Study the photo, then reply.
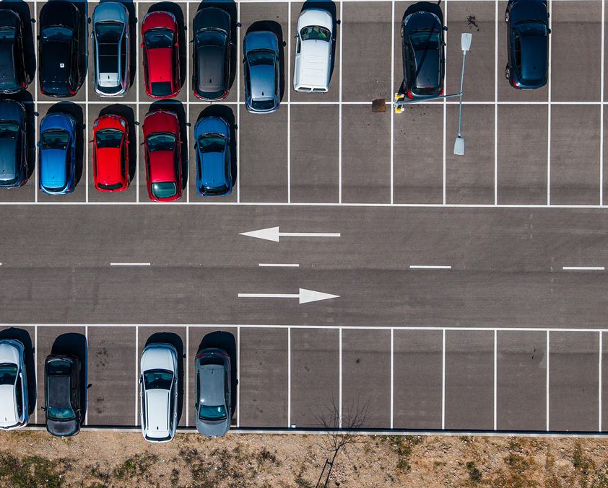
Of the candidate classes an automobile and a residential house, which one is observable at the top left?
automobile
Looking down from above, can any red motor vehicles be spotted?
Yes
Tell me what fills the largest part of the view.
paved ground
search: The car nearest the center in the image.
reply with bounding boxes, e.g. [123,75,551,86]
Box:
[191,116,238,196]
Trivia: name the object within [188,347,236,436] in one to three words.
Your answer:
car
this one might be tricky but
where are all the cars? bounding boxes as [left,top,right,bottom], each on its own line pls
[188,8,235,100]
[191,116,238,196]
[88,115,133,192]
[504,0,556,90]
[37,355,83,436]
[0,338,30,431]
[138,12,184,98]
[140,110,186,201]
[238,32,284,114]
[0,99,30,188]
[33,113,79,195]
[0,10,29,94]
[135,341,182,443]
[400,12,449,98]
[188,347,236,436]
[86,3,134,98]
[34,2,82,98]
